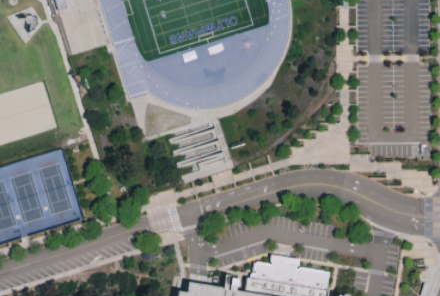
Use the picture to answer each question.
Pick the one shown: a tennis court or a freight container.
tennis court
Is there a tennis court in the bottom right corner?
No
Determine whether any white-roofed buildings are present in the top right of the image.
No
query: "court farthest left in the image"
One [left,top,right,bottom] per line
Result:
[0,182,15,232]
